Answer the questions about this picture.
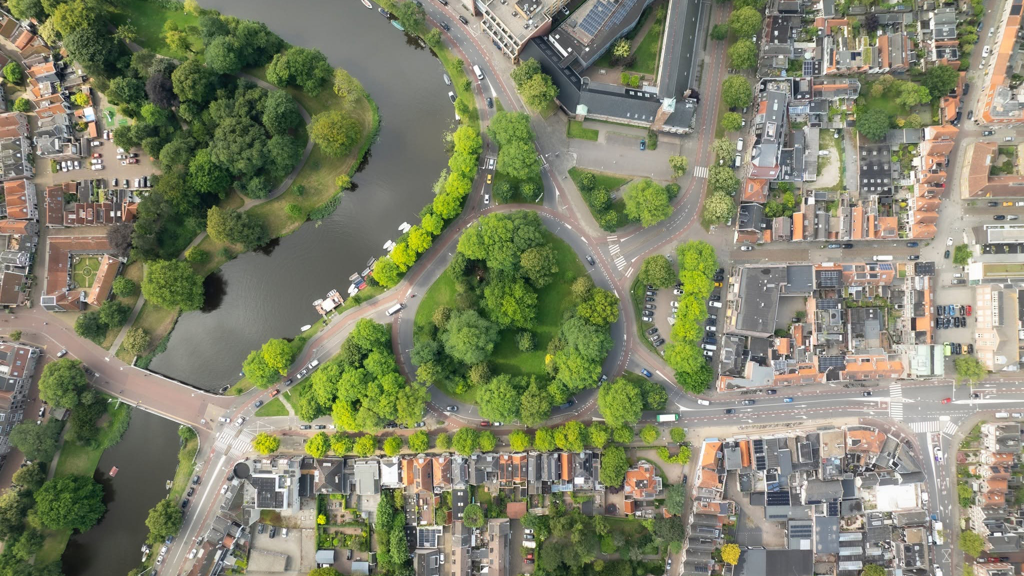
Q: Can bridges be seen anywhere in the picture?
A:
Yes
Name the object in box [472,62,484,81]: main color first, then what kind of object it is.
white vehicle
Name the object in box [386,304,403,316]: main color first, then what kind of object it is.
white vehicle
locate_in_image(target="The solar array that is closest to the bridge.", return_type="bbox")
[250,477,285,508]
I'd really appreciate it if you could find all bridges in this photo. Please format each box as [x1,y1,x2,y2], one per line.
[94,365,230,435]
